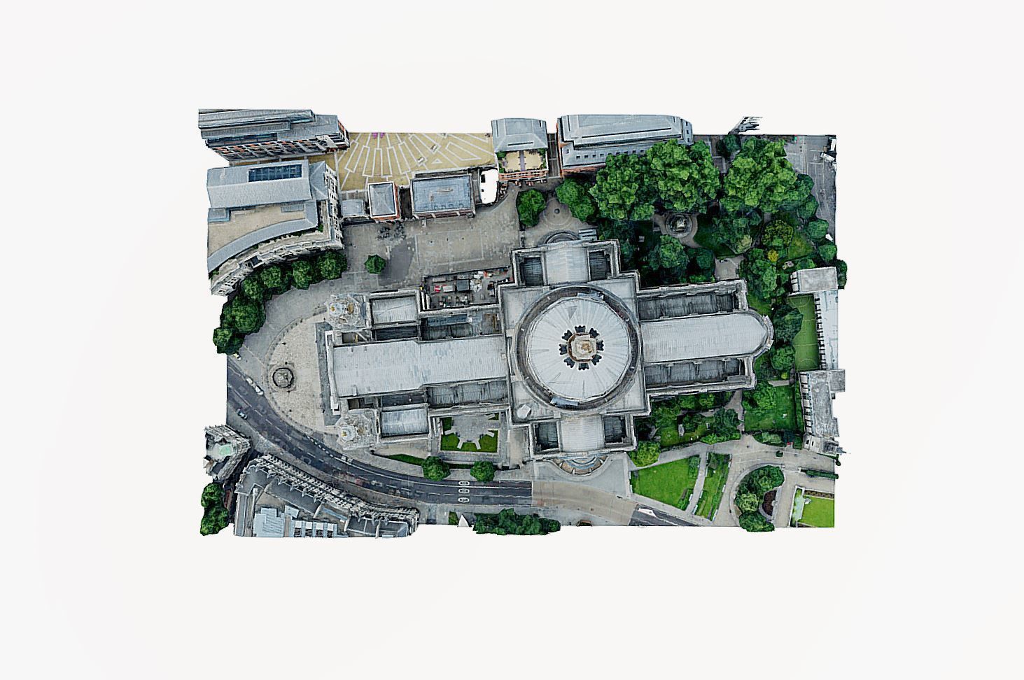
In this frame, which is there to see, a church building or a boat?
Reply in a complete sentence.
This aerial view contains a church building.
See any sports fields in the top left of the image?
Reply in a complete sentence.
No, the scene shows no sports field in the top left of the image.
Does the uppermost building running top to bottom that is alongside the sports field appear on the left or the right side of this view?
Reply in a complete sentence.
The uppermost building running top to bottom that is alongside the sports field appears in the right half of the scene.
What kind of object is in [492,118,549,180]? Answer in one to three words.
building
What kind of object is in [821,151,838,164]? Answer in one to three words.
vehicle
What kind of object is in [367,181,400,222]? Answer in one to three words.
building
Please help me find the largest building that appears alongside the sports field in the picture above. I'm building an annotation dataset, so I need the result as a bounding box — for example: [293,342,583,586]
[317,222,770,482]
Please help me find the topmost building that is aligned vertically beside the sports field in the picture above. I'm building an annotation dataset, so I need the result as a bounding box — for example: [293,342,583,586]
[810,290,839,370]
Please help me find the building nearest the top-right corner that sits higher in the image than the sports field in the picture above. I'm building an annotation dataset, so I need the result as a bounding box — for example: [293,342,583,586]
[786,267,838,294]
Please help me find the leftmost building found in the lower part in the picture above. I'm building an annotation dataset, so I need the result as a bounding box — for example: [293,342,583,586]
[202,425,250,487]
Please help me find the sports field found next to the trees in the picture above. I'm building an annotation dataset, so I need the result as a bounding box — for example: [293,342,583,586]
[788,292,819,371]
